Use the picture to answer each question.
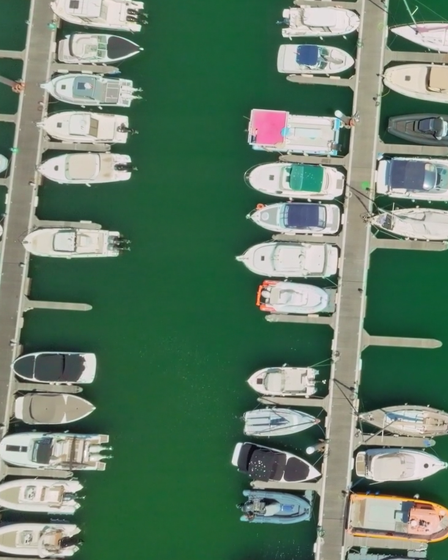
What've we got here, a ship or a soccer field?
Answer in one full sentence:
This aerial view contains a ship.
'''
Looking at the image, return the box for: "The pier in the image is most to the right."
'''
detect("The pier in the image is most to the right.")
[251,0,448,560]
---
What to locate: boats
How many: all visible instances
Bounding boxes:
[344,490,448,544]
[387,116,448,147]
[376,157,448,206]
[34,152,144,187]
[243,404,320,436]
[0,522,94,555]
[61,31,142,65]
[34,73,151,109]
[0,478,95,513]
[46,0,155,33]
[356,447,448,483]
[357,402,448,440]
[380,63,448,103]
[244,200,343,236]
[18,229,135,260]
[231,489,315,521]
[277,45,354,77]
[228,242,341,278]
[272,0,361,41]
[361,200,448,242]
[0,156,9,172]
[391,0,448,54]
[30,111,144,145]
[244,363,331,397]
[10,353,102,386]
[0,429,111,468]
[18,393,96,424]
[239,160,347,203]
[253,279,330,314]
[236,448,321,483]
